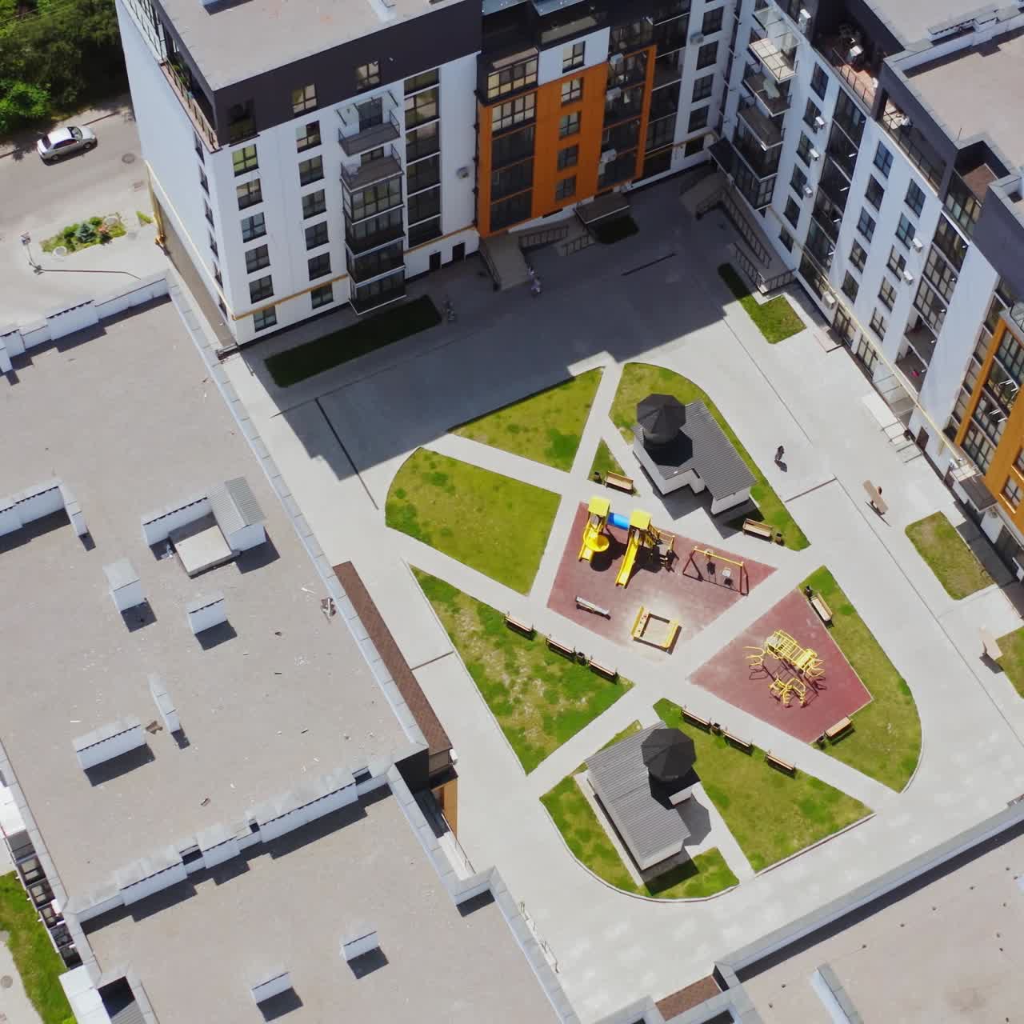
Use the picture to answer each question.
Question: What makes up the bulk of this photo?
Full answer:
For the most part, this view shows buildings.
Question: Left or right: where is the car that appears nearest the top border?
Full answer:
You can find the car that appears nearest the top border on the left side of the picture.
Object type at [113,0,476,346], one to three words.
building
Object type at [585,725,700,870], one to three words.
shed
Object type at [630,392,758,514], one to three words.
shed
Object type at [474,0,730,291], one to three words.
building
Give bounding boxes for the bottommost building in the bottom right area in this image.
[596,799,1024,1024]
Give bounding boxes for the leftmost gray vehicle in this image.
[34,123,96,161]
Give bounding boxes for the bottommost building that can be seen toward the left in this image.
[63,758,582,1024]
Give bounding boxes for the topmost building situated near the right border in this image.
[685,0,1024,587]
